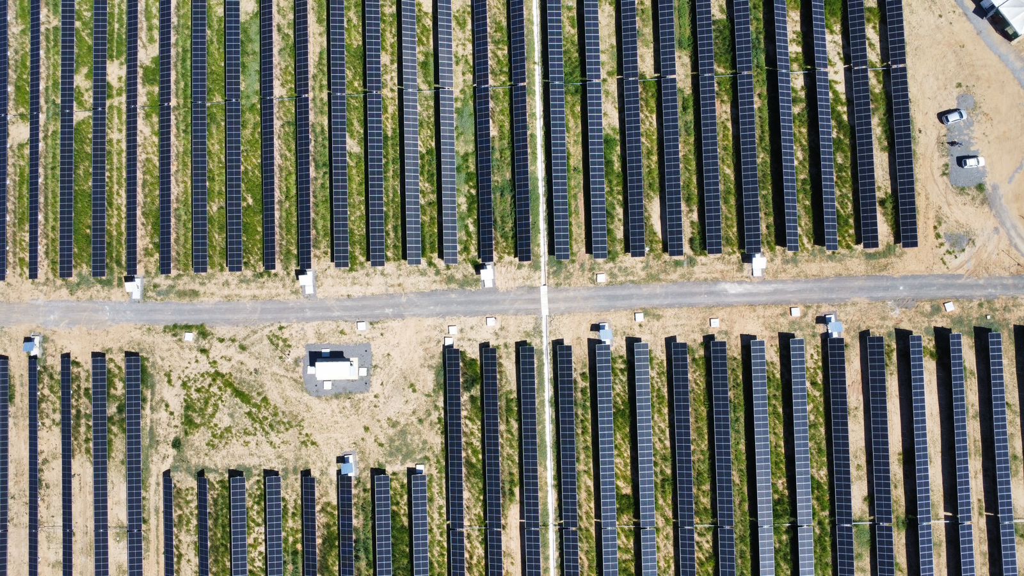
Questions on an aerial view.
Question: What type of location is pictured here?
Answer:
solar farm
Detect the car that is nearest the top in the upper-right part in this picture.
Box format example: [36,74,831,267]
[939,109,967,126]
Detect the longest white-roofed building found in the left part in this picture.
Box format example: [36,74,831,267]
[315,359,357,380]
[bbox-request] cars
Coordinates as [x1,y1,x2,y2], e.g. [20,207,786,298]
[939,109,967,126]
[958,156,986,170]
